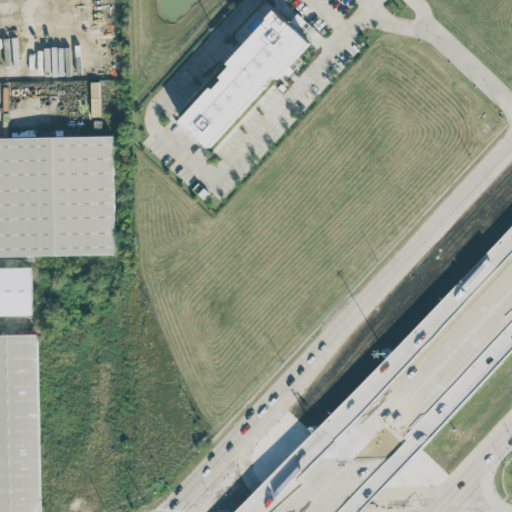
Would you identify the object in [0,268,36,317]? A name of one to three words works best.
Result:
building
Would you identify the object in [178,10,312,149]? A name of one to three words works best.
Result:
building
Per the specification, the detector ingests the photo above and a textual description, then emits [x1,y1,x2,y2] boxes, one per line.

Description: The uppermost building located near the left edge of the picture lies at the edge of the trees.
[0,138,119,256]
